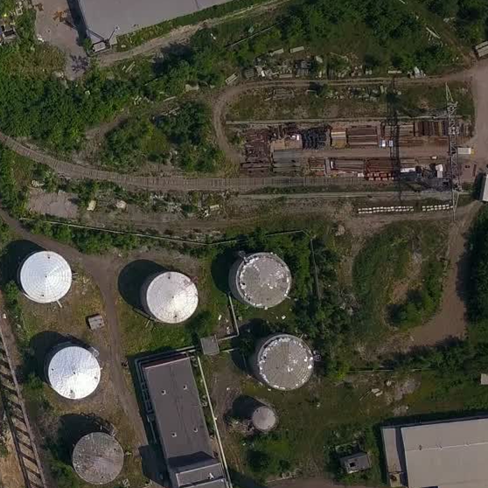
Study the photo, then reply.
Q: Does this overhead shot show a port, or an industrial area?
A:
industrial area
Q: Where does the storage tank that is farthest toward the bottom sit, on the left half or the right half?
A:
left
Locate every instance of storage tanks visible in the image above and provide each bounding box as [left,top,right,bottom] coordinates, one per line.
[243,402,276,430]
[70,425,125,485]
[229,251,292,307]
[47,340,101,399]
[19,249,75,307]
[252,330,317,391]
[142,270,199,327]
